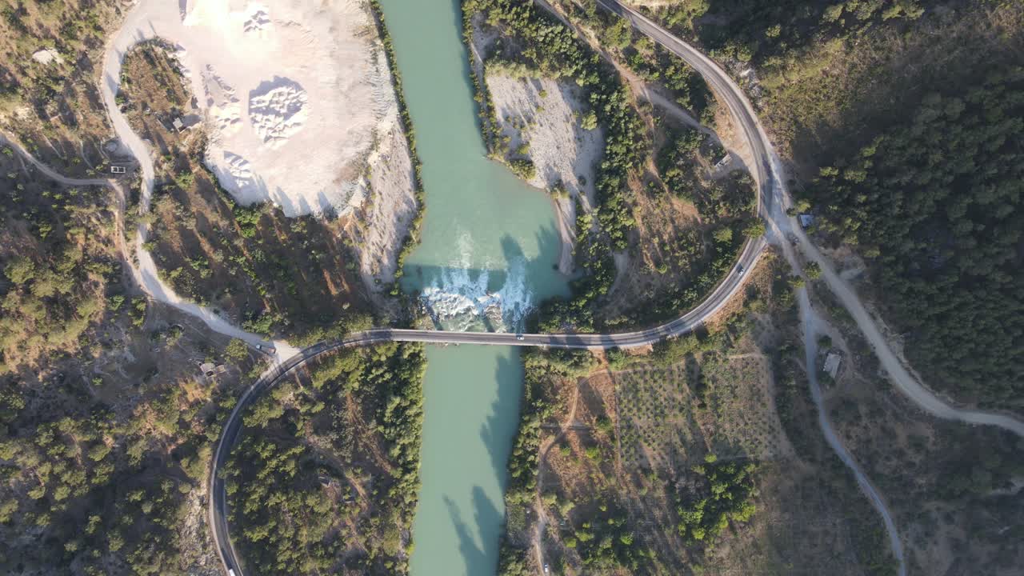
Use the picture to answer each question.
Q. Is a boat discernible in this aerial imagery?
No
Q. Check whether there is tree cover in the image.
Yes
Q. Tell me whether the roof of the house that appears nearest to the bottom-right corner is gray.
Yes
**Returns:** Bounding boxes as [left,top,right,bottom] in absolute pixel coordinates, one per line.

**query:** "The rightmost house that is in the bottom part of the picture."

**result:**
[821,352,842,378]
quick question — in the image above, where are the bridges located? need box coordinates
[391,328,552,350]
